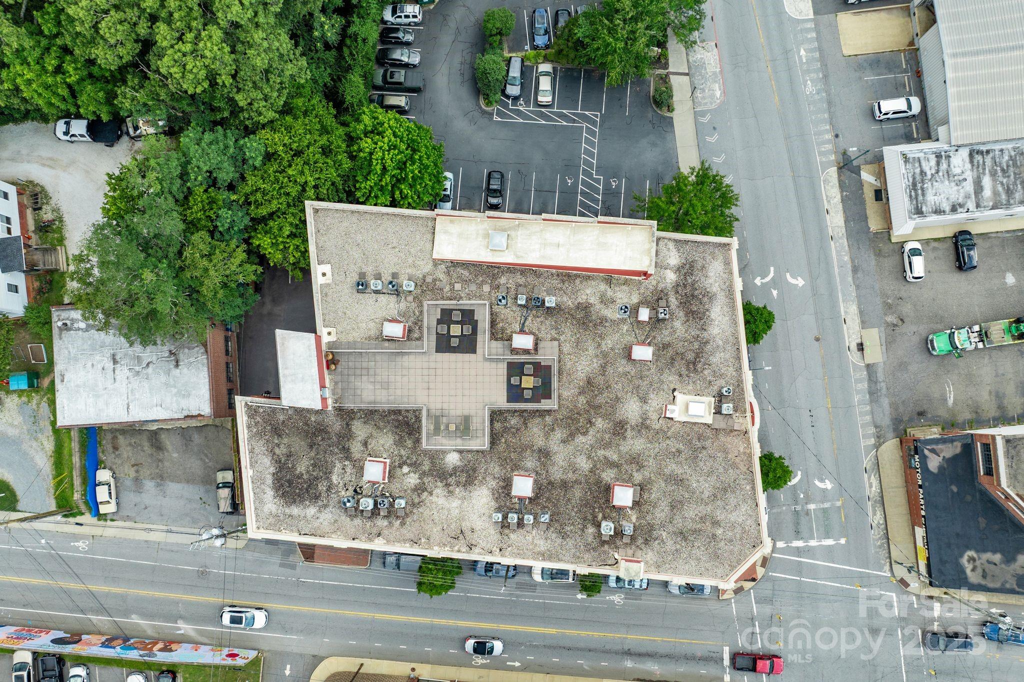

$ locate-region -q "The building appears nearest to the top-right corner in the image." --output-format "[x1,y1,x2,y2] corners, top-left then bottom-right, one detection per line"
[918,0,1024,144]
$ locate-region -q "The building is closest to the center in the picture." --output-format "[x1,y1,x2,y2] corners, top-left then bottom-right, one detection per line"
[235,201,774,590]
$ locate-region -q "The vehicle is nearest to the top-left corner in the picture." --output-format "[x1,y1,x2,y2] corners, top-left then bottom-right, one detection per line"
[56,118,123,146]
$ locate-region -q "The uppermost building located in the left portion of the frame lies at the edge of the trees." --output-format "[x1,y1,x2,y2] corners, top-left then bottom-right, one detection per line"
[0,169,67,305]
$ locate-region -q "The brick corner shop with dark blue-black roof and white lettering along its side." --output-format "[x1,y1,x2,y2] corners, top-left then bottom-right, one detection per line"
[902,423,1024,596]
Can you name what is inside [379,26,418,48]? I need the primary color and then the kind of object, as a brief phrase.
black car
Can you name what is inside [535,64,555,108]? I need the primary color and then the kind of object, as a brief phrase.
white car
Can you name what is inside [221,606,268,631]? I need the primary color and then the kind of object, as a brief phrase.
white car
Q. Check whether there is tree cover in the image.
Yes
